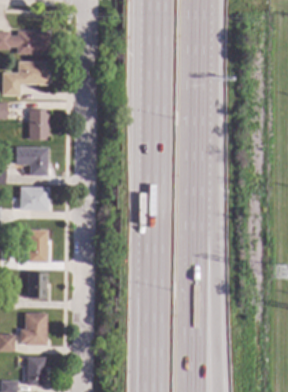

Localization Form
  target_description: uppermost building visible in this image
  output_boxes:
[0,32,51,56]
